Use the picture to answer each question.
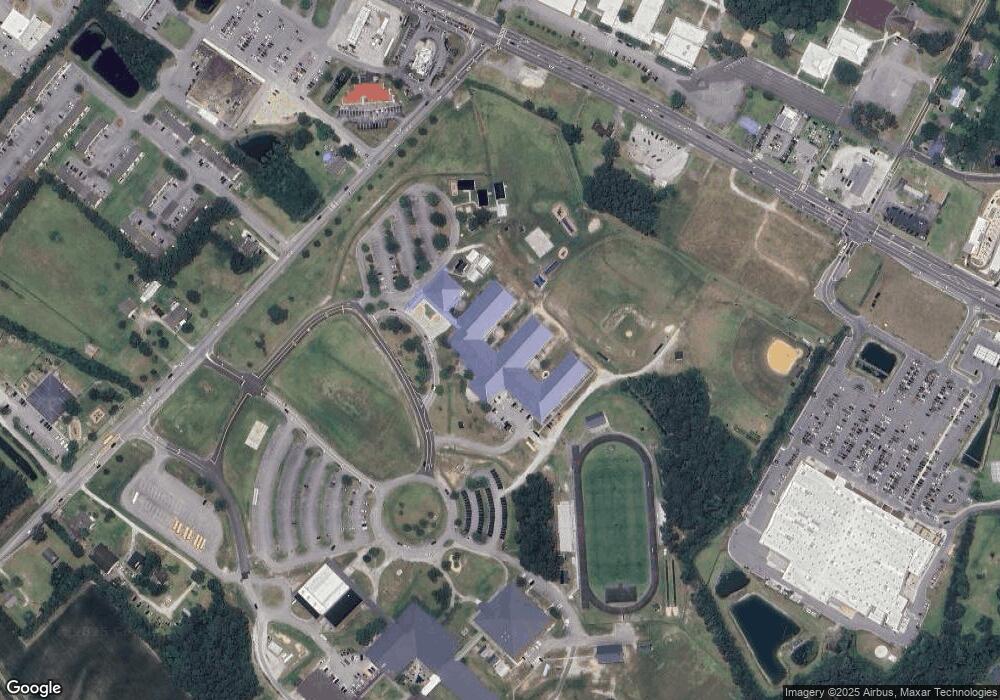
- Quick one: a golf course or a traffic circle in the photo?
traffic circle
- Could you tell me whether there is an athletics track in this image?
Yes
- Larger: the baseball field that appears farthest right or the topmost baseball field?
the baseball field that appears farthest right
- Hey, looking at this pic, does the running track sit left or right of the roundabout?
right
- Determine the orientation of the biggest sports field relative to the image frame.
vertically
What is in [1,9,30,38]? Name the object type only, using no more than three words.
building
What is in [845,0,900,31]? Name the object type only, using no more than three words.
building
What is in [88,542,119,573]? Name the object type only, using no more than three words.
house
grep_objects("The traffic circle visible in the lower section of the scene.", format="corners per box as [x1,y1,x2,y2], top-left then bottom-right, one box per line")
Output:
[373,472,457,554]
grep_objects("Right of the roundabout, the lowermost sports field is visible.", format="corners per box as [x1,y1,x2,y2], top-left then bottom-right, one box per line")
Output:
[583,442,648,603]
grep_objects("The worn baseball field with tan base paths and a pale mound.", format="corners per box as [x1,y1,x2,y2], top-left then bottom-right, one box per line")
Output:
[603,307,655,358]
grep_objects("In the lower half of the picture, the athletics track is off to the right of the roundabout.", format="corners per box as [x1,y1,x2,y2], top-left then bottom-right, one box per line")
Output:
[572,432,659,615]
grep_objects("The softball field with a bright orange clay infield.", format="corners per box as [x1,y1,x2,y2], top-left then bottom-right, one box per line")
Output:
[732,314,805,407]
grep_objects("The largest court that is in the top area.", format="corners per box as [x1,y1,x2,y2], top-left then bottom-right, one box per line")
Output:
[524,227,554,258]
